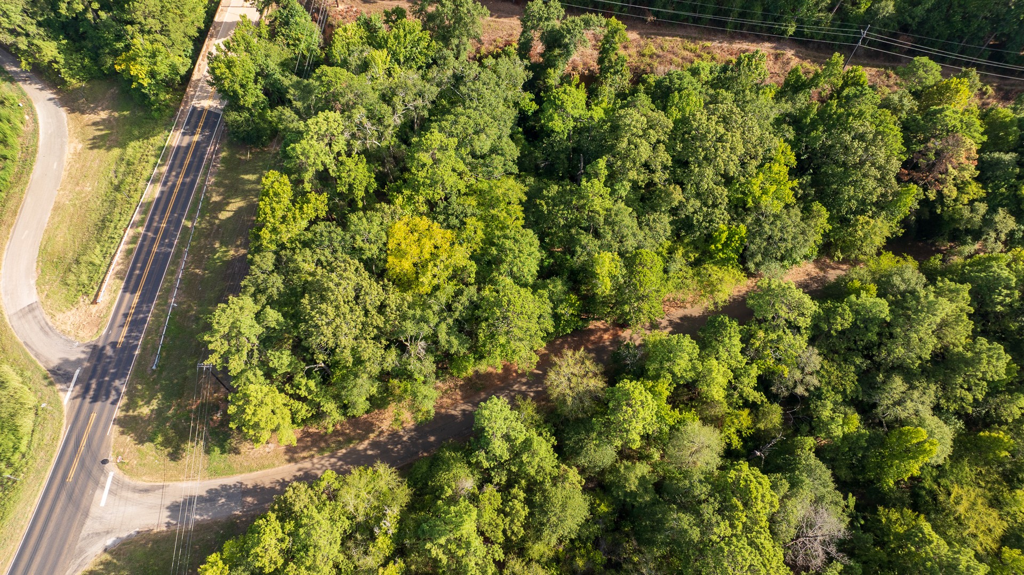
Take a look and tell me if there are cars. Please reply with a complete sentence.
No, there is no car in the image.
